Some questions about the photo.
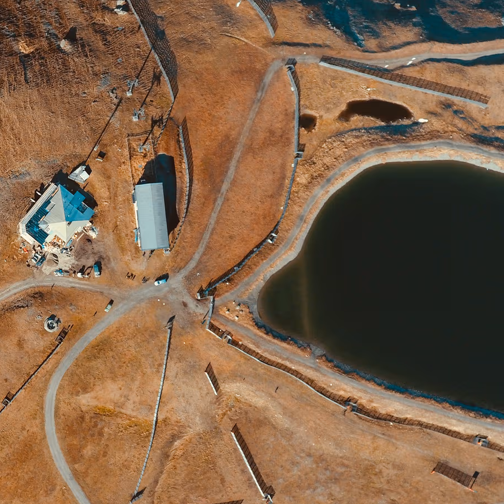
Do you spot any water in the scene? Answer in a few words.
Yes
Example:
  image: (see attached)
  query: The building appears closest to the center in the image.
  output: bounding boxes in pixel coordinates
[130,180,170,253]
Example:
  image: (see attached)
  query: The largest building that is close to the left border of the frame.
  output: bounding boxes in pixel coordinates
[19,183,94,247]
